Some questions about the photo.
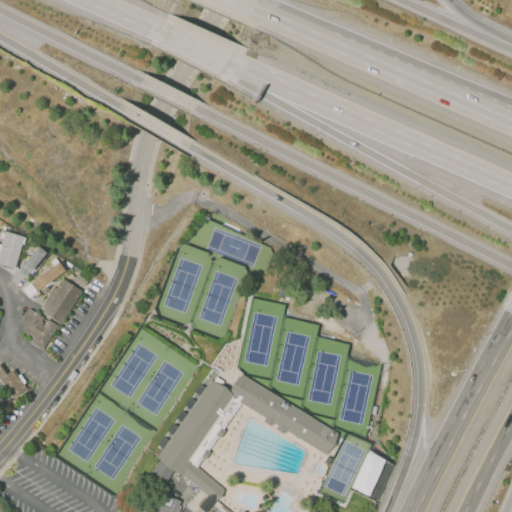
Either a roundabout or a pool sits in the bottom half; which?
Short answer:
pool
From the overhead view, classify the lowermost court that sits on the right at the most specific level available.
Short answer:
tennis court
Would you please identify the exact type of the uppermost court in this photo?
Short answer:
tennis court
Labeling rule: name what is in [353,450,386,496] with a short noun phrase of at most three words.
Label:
building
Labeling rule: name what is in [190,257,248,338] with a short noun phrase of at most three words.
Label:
tennis court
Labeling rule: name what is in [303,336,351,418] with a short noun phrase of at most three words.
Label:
tennis court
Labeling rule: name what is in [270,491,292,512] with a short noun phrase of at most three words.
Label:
swimming pool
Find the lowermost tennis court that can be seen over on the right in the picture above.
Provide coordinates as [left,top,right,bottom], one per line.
[321,435,372,502]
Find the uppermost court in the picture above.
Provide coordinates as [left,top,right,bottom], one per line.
[191,216,273,268]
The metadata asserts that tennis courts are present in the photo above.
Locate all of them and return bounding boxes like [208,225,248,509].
[89,412,155,496]
[190,257,248,338]
[303,336,351,418]
[191,216,273,268]
[102,328,171,411]
[158,246,212,324]
[130,348,198,430]
[321,435,372,502]
[238,298,287,378]
[60,394,128,475]
[335,360,381,438]
[272,317,322,400]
